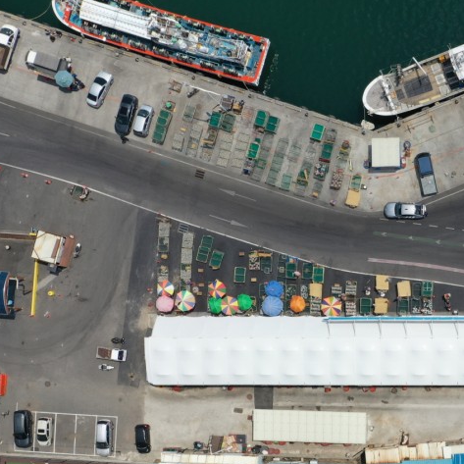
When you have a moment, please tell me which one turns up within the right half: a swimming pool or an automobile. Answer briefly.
automobile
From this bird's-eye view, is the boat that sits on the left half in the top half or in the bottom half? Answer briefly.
top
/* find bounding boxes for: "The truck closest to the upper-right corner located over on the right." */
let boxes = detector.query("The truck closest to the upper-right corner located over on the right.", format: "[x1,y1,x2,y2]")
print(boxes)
[414,152,437,197]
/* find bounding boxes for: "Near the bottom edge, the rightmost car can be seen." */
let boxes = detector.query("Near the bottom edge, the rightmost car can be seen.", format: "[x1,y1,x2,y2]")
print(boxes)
[133,423,152,452]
